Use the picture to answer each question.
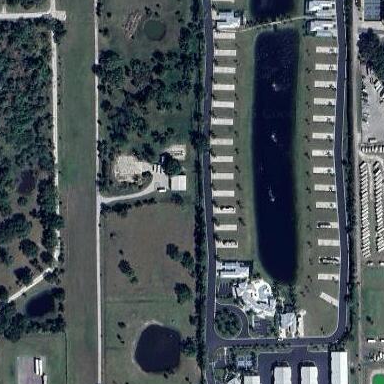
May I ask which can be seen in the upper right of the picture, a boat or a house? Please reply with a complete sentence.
The feature located in the upper right of the picture is a house.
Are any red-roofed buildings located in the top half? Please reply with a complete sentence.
No, there is no red-roofed building in the top half.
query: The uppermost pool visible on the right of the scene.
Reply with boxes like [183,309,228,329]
[258,283,272,301]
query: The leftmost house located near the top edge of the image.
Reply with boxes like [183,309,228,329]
[216,11,244,28]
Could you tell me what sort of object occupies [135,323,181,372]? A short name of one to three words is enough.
pond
